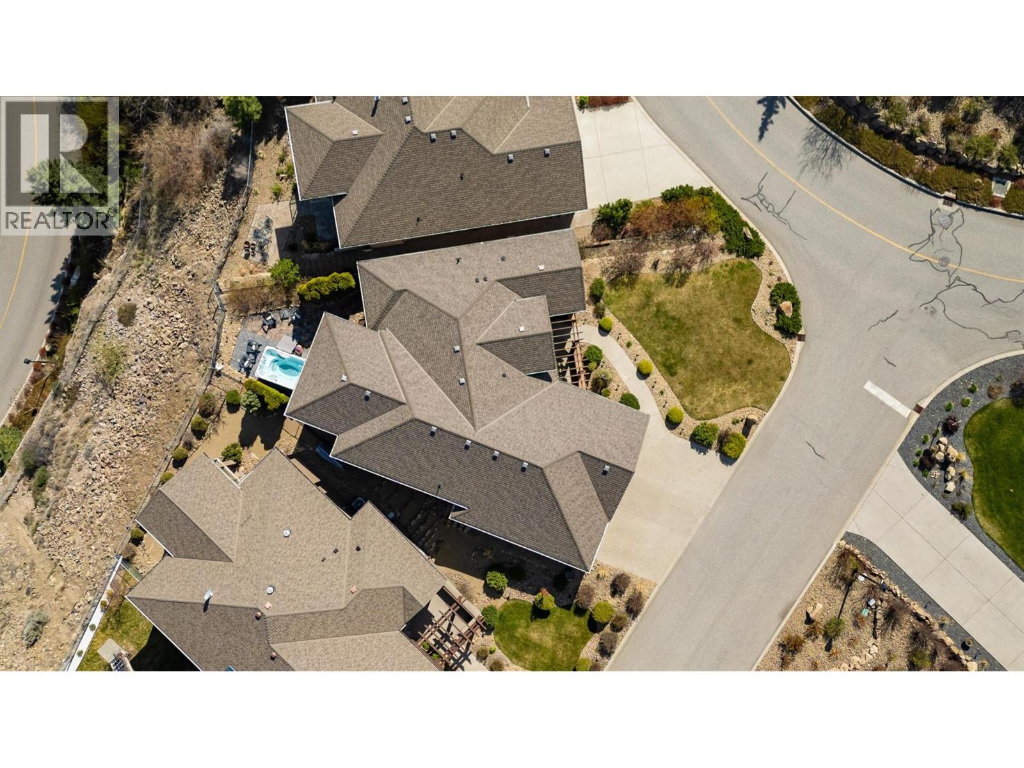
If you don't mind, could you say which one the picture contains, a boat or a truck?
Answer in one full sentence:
The one in the frame is a boat.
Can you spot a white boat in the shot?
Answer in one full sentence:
No, I can't see a single white boat in this photo.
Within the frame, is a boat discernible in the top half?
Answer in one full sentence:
No, there's no boat to be seen in the top half.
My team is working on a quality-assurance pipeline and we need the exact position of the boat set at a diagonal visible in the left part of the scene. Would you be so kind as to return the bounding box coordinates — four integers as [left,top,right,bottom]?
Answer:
[316,445,344,469]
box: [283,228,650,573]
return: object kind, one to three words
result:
house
